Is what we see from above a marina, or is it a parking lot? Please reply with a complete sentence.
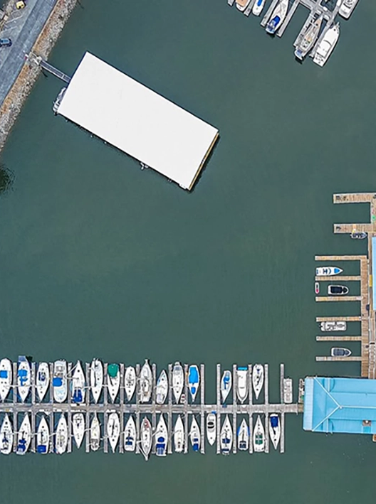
This image shows a marina.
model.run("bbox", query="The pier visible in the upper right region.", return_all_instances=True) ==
[228,0,340,57]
